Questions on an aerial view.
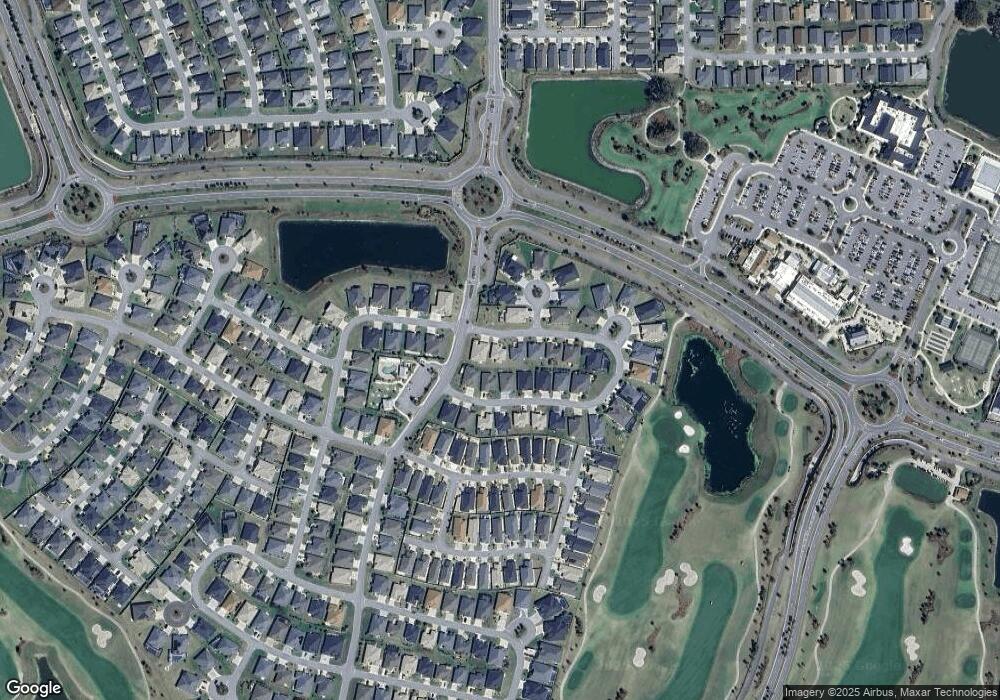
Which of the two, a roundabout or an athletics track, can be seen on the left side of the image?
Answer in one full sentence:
The one visible on the left side of the image is a roundabout.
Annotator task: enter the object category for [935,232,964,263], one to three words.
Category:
roundabout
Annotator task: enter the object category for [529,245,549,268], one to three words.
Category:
house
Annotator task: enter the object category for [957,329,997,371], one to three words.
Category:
tennis court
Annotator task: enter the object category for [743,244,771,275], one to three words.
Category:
building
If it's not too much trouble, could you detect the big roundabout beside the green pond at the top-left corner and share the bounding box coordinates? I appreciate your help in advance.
[51,171,113,231]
